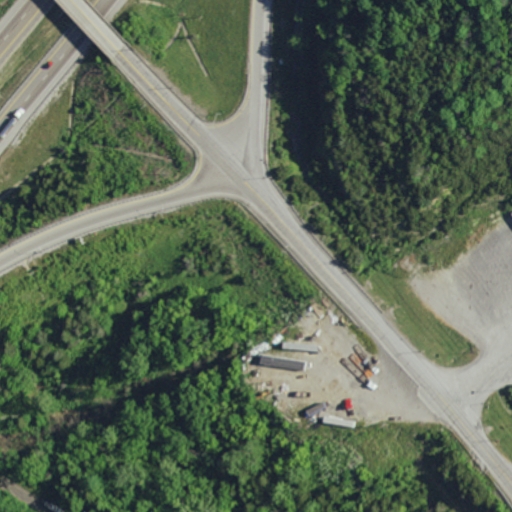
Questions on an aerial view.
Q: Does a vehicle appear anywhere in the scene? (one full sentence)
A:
Yes, the picture does show a vehicle.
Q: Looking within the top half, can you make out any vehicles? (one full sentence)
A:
Yes, a vehicle shows up within the top half.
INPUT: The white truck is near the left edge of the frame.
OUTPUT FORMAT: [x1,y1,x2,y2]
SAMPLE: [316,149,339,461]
[0,108,24,144]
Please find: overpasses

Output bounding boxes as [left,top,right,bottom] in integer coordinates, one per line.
[55,0,128,60]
